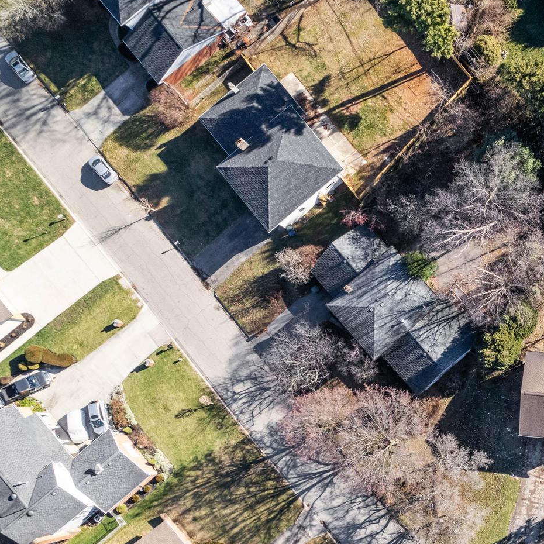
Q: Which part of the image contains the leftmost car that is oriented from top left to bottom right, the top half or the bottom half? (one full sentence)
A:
It is in the top half that the leftmost car that is oriented from top left to bottom right appears.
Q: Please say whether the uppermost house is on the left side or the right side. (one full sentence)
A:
The uppermost house is on the left side of the image.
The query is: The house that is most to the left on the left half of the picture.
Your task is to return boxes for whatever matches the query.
[0,295,26,337]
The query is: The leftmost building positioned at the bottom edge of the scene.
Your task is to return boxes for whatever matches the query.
[0,378,160,544]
